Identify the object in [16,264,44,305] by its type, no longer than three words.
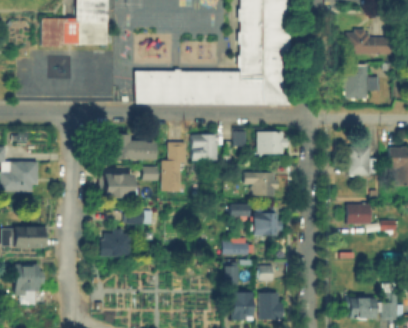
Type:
house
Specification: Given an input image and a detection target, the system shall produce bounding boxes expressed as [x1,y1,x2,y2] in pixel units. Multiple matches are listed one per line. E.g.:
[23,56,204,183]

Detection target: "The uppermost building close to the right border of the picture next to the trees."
[348,28,392,55]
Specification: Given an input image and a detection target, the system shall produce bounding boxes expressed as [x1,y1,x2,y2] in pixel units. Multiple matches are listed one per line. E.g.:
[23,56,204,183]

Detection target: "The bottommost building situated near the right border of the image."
[350,294,404,320]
